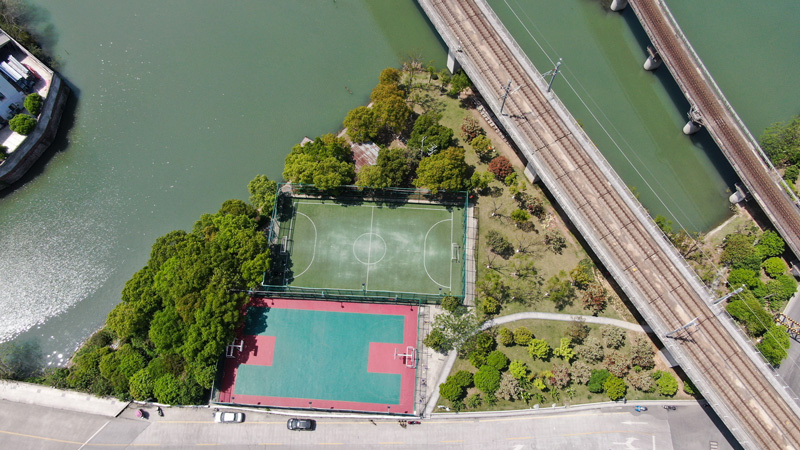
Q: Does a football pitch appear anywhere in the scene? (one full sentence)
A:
Yes, the frame does contain a football pitch.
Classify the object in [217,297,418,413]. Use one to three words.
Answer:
basketball court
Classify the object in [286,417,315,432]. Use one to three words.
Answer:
car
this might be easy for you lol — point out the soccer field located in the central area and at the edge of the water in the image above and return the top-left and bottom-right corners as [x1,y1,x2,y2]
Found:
[273,198,462,303]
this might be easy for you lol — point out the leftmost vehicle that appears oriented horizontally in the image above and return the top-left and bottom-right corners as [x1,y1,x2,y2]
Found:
[215,410,245,424]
